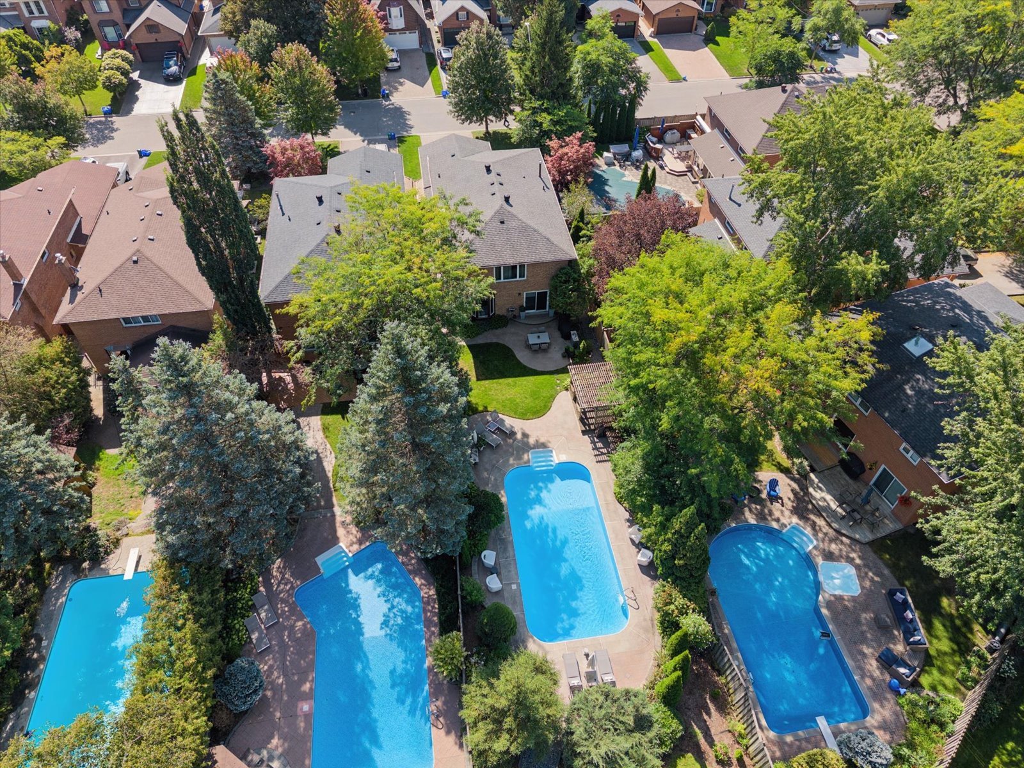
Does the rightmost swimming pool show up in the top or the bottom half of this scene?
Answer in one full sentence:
Seen from above, the rightmost swimming pool lies in the bottom half of the view.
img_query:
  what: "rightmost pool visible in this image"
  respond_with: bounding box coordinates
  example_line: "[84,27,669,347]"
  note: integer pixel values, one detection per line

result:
[709,517,879,745]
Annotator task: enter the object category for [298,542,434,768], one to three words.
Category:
swimming pool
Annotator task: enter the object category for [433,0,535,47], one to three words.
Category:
house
